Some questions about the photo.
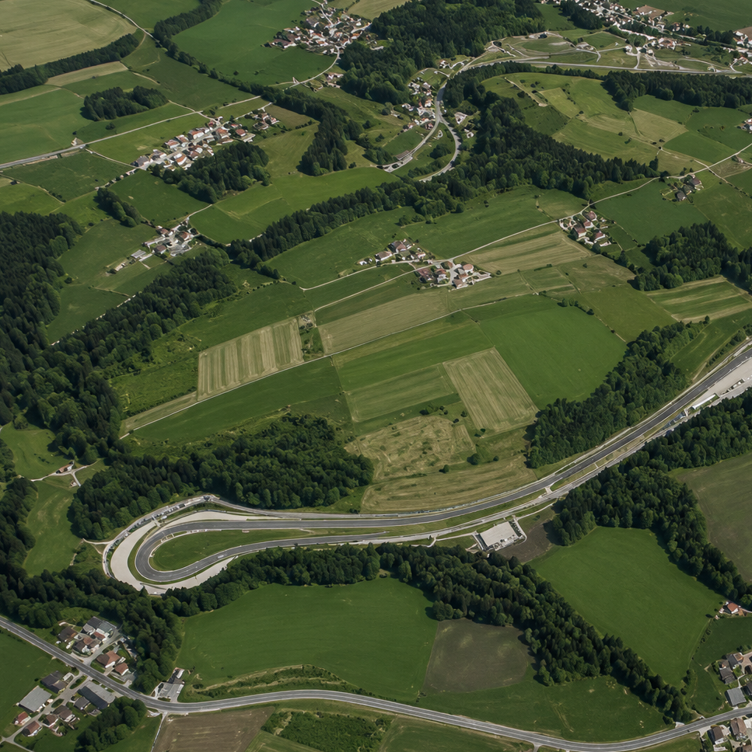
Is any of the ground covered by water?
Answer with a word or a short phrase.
No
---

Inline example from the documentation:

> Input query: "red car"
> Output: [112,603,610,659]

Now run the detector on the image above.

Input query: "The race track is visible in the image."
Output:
[134,346,752,582]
